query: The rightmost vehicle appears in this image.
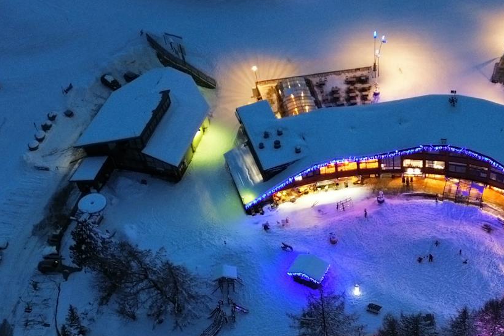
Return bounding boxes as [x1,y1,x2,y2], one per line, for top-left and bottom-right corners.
[122,68,144,80]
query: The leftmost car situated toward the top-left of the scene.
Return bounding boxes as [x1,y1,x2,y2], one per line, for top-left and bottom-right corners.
[99,70,122,87]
